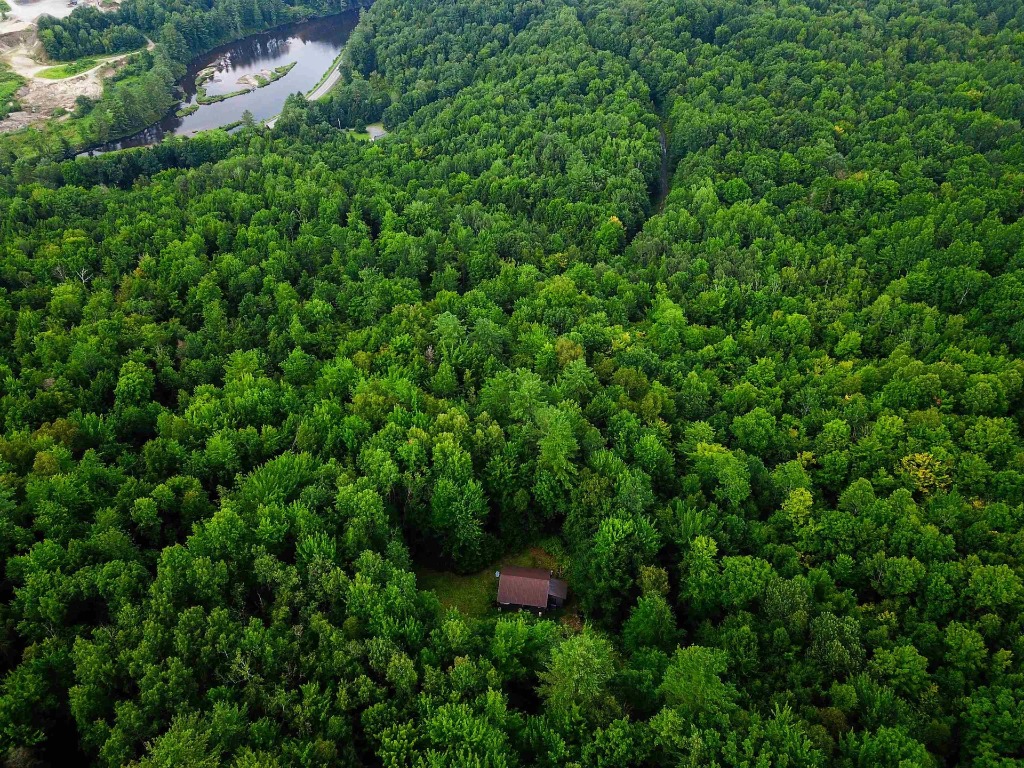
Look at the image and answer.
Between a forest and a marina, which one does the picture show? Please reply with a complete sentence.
This looks like a forest.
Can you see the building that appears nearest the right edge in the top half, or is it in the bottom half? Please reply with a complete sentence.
The bottom half of the photo is where the building that appears nearest the right edge is.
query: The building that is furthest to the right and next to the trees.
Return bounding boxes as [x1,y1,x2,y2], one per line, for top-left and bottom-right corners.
[496,566,568,613]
